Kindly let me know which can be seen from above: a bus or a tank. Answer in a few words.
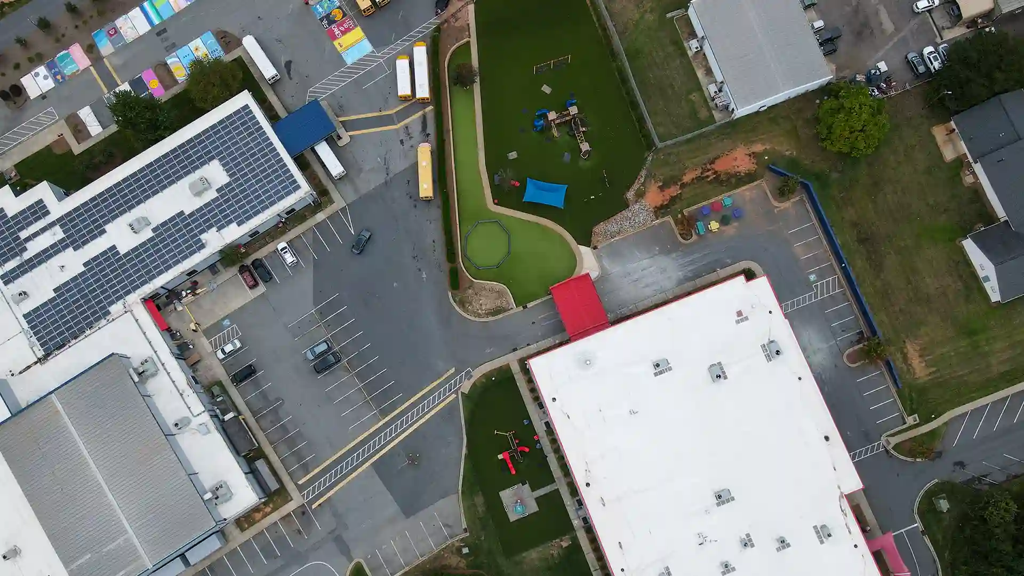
bus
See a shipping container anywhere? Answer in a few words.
Yes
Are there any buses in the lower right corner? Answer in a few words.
No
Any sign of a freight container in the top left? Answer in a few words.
No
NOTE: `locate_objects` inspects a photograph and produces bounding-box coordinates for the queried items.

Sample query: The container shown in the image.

[255,458,283,491]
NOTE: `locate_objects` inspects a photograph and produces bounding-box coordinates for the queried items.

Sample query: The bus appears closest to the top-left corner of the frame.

[240,33,283,87]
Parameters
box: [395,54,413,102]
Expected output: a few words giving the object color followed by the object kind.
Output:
white vehicle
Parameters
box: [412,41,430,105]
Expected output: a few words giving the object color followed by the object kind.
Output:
white vehicle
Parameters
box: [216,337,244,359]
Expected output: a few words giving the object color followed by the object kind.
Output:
white car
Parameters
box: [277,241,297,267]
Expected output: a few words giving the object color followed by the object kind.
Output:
white car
